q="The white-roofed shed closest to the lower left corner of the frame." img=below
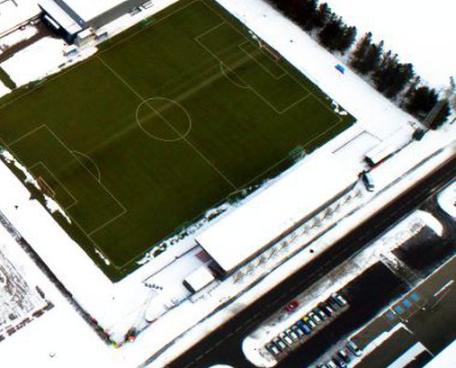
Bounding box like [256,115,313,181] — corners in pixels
[182,267,215,295]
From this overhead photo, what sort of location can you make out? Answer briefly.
sports ground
